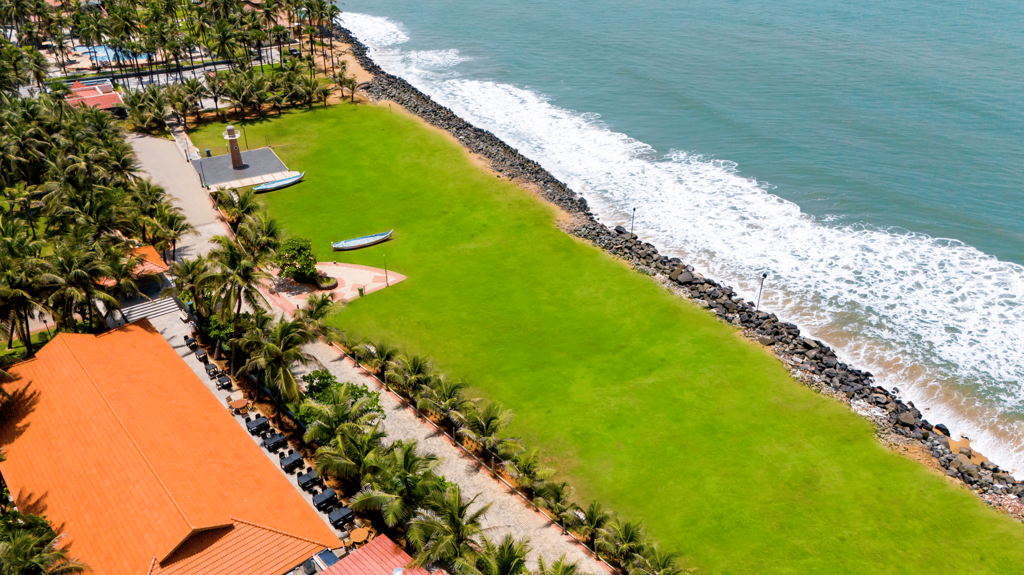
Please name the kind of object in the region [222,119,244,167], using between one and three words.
lighthouse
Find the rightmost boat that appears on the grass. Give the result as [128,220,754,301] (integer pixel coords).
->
[332,227,392,249]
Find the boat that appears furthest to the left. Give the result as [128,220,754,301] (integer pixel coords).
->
[253,170,303,190]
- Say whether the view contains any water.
Yes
